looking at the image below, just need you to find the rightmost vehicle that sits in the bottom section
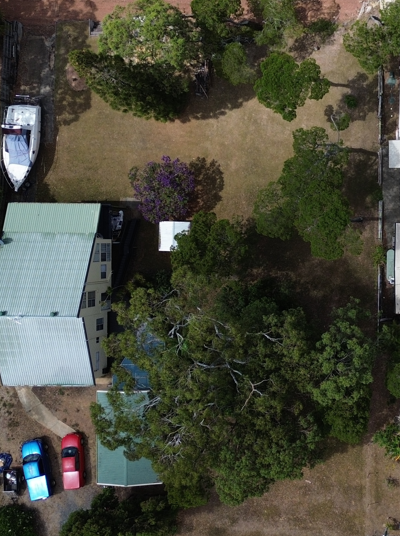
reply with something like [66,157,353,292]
[58,431,87,489]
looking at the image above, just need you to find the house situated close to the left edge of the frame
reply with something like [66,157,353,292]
[0,202,113,387]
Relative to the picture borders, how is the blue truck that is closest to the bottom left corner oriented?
vertically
